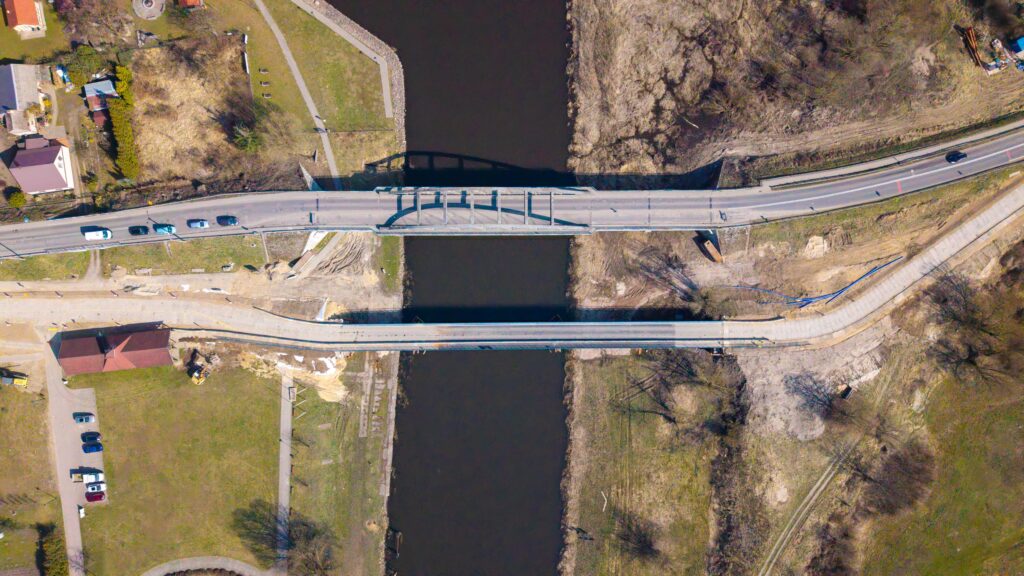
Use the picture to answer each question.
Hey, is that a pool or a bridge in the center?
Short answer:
bridge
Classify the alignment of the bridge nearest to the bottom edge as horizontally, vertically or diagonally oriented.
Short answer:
horizontally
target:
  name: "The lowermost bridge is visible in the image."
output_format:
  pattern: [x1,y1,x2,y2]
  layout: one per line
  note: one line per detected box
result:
[318,300,757,353]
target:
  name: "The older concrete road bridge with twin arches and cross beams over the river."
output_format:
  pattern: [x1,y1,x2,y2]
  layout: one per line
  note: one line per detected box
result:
[299,157,723,255]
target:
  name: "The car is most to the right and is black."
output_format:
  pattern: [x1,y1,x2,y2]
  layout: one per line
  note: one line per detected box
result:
[945,151,968,165]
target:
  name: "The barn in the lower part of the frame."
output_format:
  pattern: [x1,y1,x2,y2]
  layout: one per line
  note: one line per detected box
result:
[56,326,180,378]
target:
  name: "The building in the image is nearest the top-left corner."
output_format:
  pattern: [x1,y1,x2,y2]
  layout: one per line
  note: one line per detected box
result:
[3,0,50,39]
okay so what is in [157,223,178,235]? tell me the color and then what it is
blue vehicle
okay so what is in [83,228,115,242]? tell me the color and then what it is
white vehicle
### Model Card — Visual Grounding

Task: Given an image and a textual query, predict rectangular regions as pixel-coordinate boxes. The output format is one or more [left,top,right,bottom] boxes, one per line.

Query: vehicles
[83,228,115,242]
[82,433,103,444]
[79,473,106,484]
[217,215,240,227]
[87,483,108,494]
[74,415,96,425]
[87,492,108,503]
[945,151,968,165]
[82,443,104,454]
[0,377,27,388]
[189,219,210,230]
[129,225,150,236]
[157,223,178,235]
